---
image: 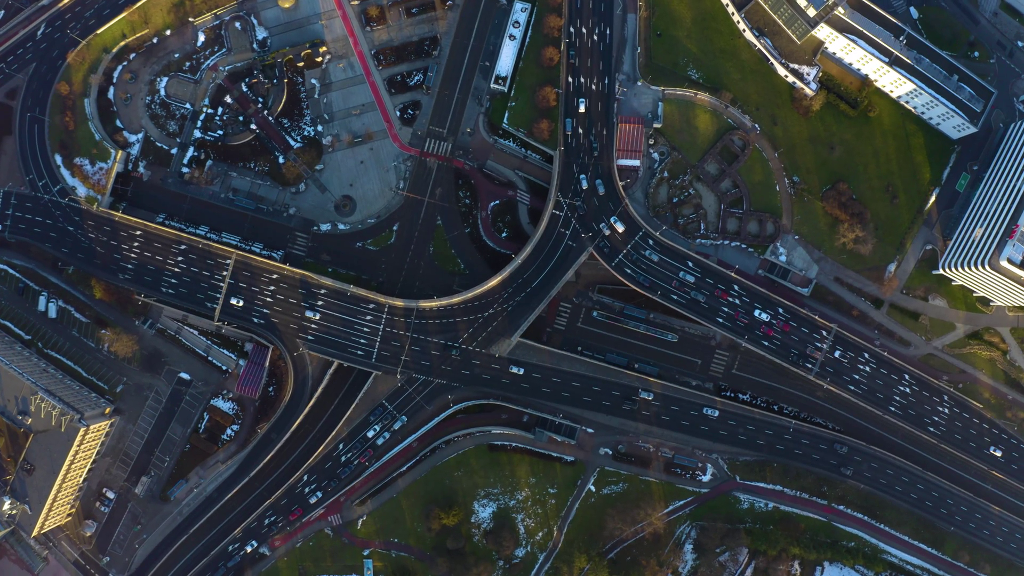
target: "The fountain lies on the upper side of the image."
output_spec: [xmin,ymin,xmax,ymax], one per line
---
[334,194,356,217]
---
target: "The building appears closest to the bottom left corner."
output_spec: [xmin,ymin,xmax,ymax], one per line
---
[0,527,57,573]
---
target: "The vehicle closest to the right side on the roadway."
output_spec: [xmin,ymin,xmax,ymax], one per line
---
[989,446,1005,458]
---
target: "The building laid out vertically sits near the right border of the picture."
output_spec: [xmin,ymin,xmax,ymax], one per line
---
[932,104,1024,306]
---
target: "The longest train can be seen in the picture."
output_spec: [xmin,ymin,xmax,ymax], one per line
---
[591,311,677,340]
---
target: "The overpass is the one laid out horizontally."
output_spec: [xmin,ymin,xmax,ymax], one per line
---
[99,155,592,374]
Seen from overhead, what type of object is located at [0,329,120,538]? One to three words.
building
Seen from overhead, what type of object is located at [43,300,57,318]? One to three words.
vehicle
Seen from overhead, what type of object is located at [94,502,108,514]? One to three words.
vehicle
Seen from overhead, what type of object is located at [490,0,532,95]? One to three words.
building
